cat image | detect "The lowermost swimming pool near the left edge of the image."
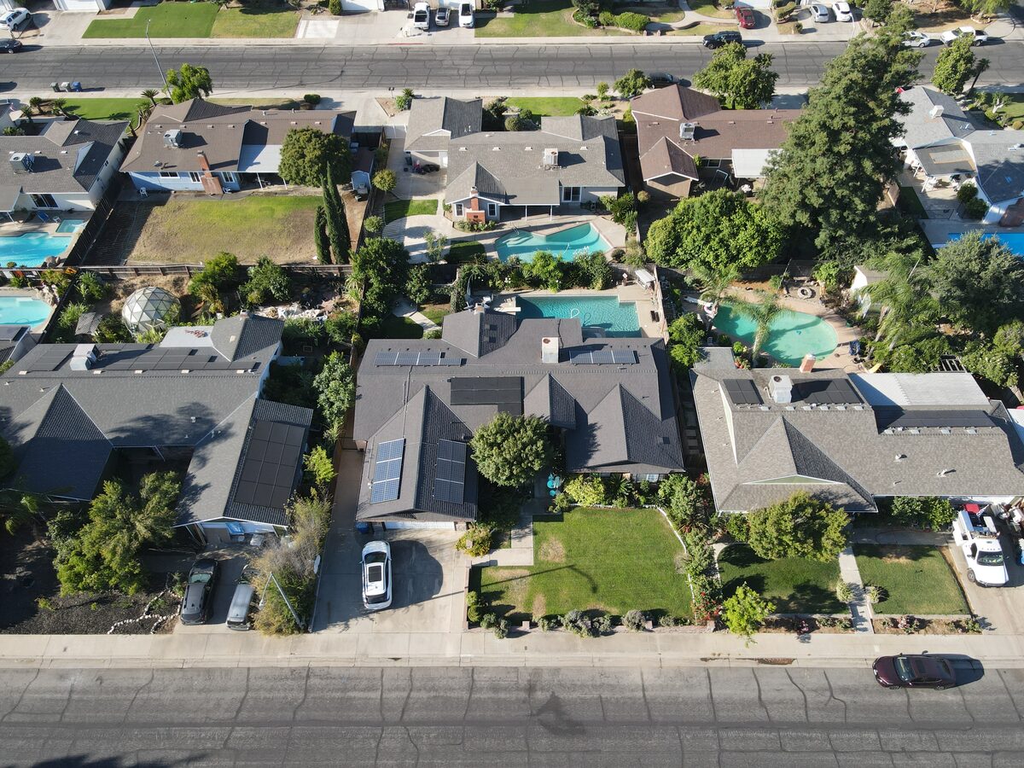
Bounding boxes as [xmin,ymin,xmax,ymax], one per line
[0,293,48,329]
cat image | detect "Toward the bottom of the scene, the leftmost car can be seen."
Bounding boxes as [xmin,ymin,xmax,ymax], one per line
[176,556,226,631]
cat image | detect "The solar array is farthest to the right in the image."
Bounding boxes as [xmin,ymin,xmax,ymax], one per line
[877,410,994,426]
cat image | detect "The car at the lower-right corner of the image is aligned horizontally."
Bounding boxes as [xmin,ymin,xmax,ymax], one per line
[868,651,960,691]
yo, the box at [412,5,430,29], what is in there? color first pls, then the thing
white vehicle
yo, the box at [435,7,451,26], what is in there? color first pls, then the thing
gray car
